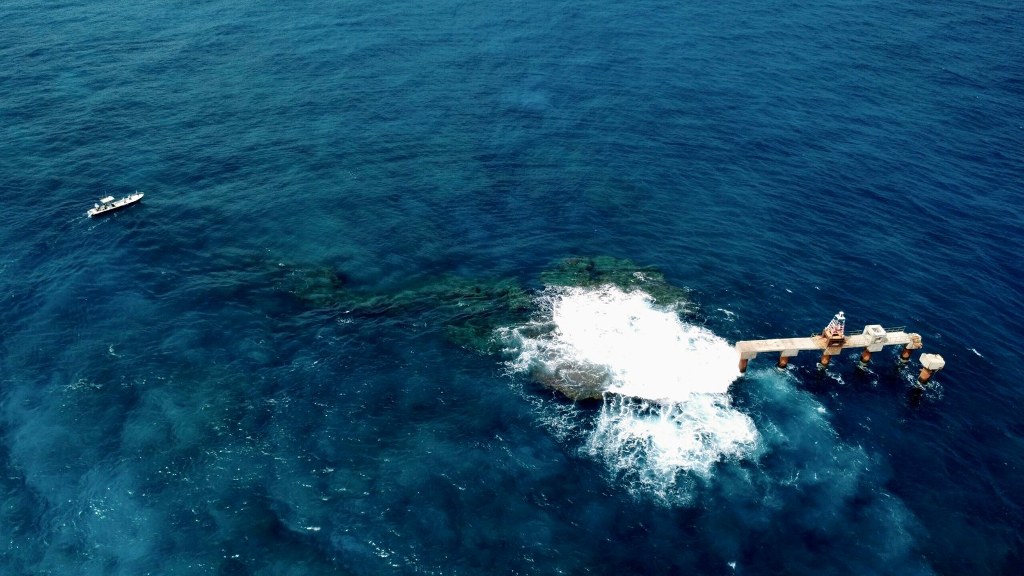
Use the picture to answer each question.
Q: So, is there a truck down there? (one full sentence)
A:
No, I find no truck anywhere in the image.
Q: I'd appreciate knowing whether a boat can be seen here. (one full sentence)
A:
Yes, looking at the shot, I can spot a boat.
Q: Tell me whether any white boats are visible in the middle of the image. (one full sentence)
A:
No, no white boat can be made out in the middle of the image.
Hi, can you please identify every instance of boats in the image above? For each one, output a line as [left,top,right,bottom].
[83,189,143,217]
